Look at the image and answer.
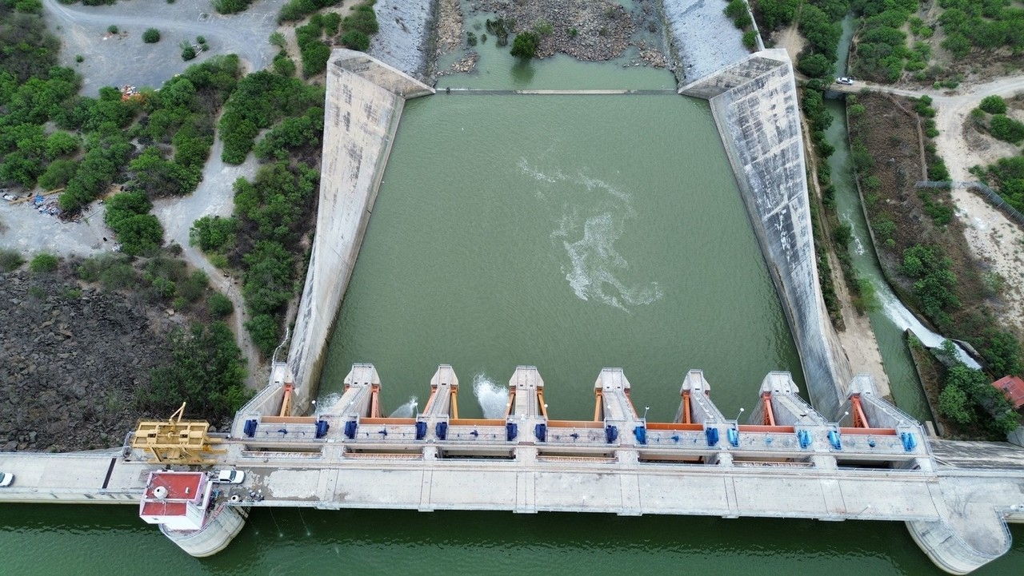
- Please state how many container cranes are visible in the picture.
1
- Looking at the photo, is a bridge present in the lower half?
No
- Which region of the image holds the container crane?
bottom left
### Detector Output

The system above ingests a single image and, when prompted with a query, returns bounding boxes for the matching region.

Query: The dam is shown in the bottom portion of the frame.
[0,361,1024,574]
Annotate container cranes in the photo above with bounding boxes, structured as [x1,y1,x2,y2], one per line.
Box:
[128,397,241,462]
